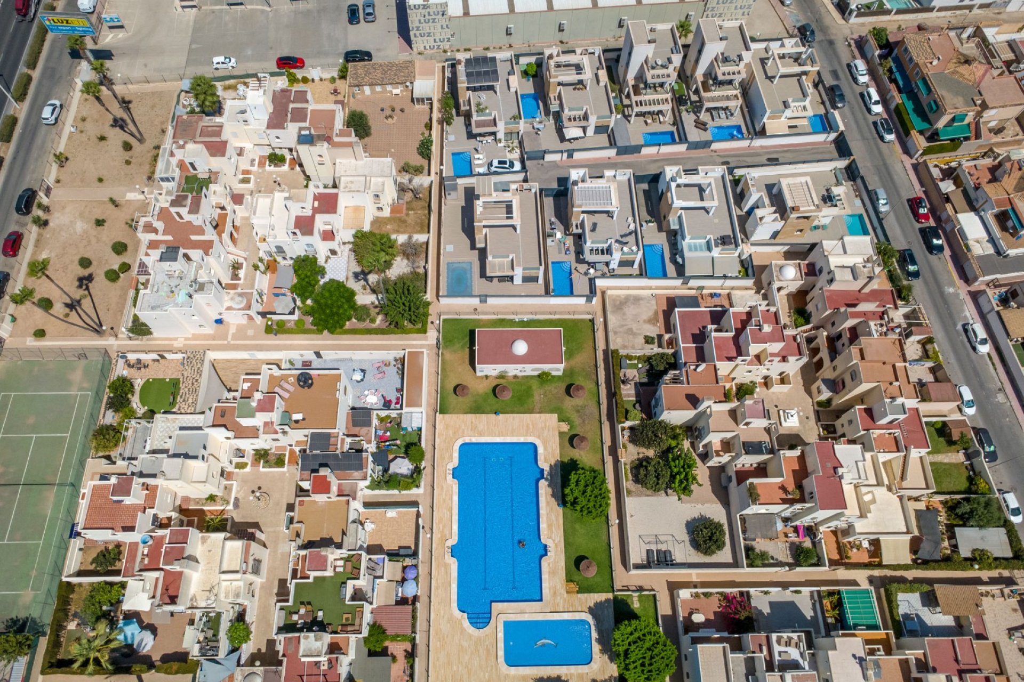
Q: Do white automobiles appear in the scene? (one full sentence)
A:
Yes, looking at the shot, I can spot a white automobile.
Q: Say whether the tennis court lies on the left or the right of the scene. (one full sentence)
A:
The tennis court sits on the left side.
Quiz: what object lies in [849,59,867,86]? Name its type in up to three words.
car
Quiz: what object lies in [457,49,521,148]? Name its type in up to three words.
house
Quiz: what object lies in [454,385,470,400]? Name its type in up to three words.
umbrella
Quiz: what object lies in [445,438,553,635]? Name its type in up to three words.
swimming pool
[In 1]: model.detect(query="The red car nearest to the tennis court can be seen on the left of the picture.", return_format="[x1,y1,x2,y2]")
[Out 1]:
[1,231,25,258]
